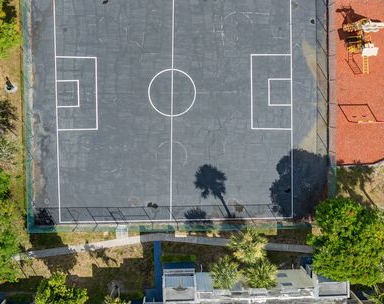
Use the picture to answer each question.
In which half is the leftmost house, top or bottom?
bottom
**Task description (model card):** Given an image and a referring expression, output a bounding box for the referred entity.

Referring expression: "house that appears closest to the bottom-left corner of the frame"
[111,268,198,304]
